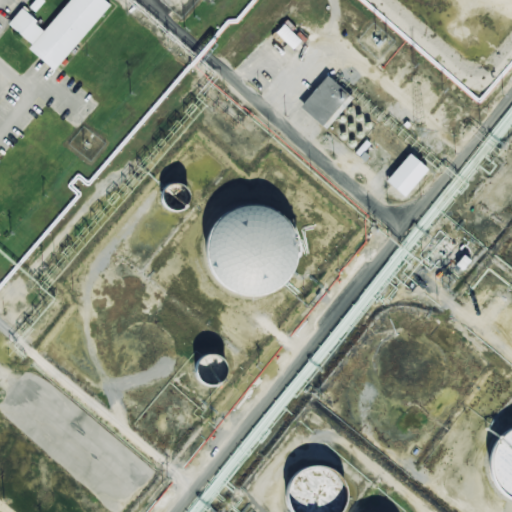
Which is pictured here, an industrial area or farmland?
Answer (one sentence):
This image shows an industrial area.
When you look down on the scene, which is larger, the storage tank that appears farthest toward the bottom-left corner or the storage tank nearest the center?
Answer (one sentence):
The storage tank nearest the center covers a greater area than the storage tank that appears farthest toward the bottom-left corner.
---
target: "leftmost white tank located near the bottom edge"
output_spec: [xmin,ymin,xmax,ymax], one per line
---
[287,465,350,512]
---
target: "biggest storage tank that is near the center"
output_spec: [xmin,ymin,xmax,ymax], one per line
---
[206,206,300,298]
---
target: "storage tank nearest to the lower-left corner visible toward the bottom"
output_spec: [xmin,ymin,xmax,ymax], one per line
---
[196,353,229,386]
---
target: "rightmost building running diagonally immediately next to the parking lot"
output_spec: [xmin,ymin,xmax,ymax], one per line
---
[30,0,115,70]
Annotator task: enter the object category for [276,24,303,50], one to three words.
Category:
building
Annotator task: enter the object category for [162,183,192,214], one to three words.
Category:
storage tank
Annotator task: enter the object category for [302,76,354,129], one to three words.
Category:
building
